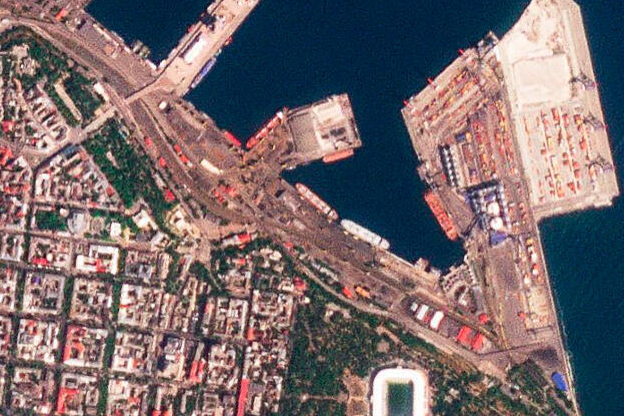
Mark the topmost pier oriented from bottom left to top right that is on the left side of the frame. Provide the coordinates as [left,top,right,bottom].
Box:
[150,0,254,97]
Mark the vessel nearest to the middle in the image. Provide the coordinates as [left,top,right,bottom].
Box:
[298,185,339,221]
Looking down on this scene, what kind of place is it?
port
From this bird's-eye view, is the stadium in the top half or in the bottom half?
bottom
